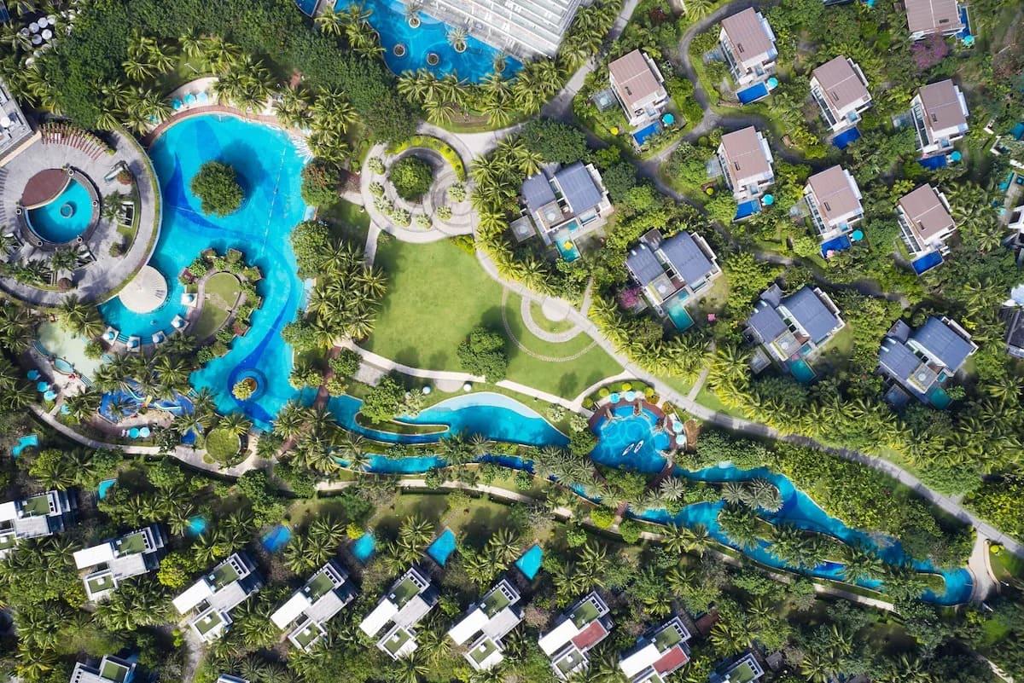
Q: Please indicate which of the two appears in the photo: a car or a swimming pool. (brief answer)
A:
swimming pool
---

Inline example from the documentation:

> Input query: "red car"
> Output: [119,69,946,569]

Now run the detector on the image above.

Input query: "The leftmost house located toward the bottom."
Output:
[0,486,80,552]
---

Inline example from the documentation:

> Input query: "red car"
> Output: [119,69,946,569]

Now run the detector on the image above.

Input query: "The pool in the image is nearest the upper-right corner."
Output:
[954,6,969,41]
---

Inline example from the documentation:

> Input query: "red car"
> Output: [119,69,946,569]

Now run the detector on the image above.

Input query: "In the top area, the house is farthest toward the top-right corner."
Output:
[890,0,964,48]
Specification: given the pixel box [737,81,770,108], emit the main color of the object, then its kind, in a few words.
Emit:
blue swimming pool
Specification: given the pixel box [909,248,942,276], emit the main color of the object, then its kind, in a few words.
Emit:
blue swimming pool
